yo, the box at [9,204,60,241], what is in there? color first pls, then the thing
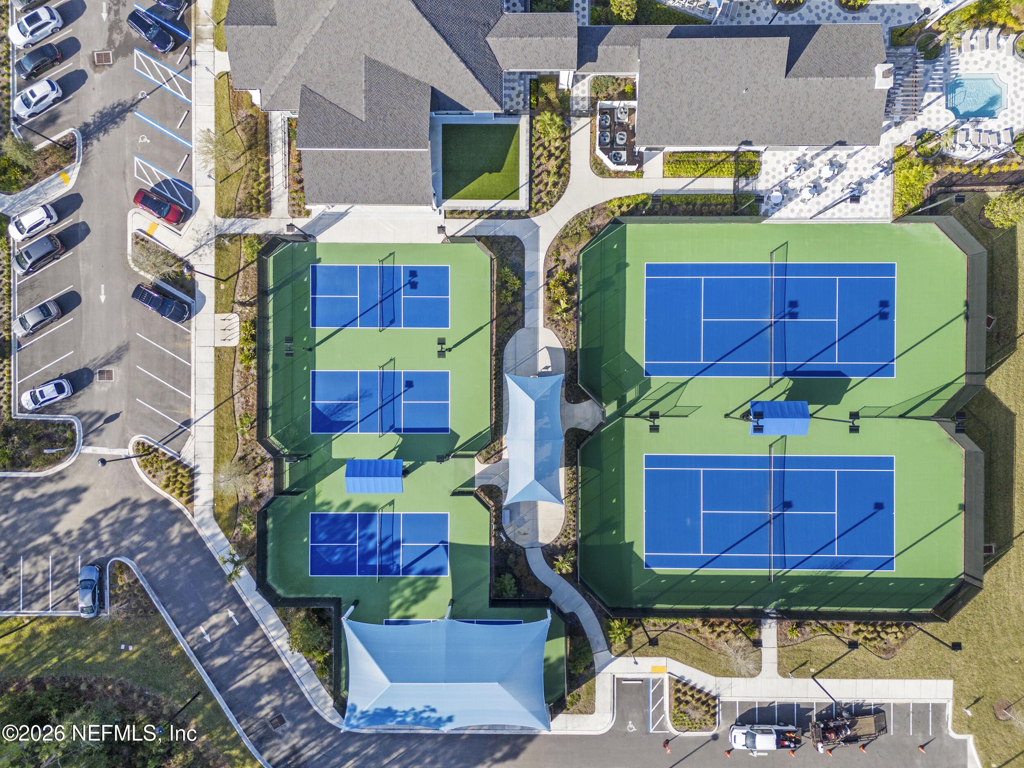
white car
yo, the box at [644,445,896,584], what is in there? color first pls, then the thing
blue tennis court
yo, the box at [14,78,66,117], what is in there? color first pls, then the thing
white car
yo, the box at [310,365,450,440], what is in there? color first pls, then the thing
blue sports court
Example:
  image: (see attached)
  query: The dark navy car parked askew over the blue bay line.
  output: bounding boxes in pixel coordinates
[124,7,176,55]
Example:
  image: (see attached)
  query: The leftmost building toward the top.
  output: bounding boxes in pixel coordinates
[224,0,504,215]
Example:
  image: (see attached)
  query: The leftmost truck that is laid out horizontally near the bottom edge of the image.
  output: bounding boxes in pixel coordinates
[730,722,804,755]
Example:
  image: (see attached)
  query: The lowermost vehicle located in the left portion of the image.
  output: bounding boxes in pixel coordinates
[76,564,103,617]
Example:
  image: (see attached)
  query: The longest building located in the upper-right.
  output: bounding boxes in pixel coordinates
[635,24,892,156]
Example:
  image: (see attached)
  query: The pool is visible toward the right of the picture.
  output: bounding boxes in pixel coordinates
[943,69,1012,121]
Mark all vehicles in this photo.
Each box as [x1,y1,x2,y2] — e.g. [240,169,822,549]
[13,299,65,336]
[730,722,804,755]
[76,564,103,617]
[10,6,64,48]
[15,42,65,80]
[132,187,186,227]
[129,283,191,325]
[151,0,187,16]
[124,7,176,55]
[9,204,60,241]
[20,379,75,410]
[12,233,67,274]
[14,78,66,117]
[5,0,51,15]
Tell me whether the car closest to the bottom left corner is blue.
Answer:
Yes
